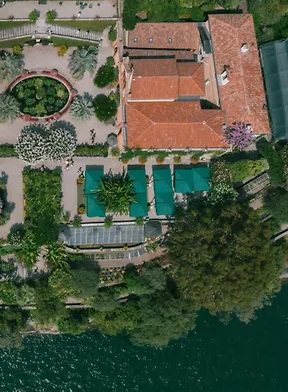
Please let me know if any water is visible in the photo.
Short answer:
Yes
